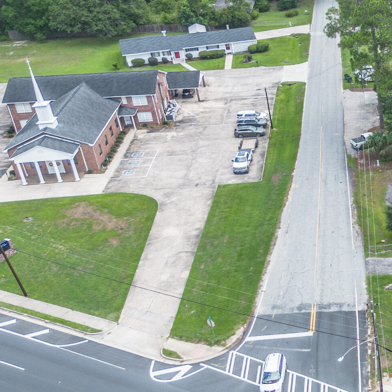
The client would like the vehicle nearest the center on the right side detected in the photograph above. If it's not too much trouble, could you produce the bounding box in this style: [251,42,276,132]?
[232,149,251,170]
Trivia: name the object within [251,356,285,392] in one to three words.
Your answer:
car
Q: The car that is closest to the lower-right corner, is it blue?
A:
No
